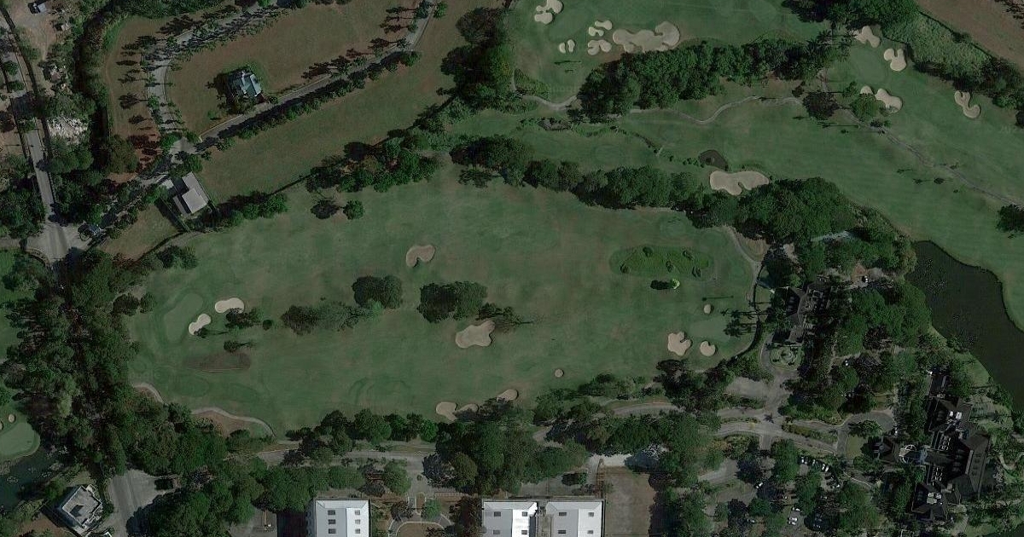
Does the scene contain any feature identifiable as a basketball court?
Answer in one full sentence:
No, no basketball court can be seen from above.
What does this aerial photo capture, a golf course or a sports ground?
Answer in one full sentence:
It's a golf course.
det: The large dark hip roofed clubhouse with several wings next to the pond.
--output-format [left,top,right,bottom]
[912,375,990,523]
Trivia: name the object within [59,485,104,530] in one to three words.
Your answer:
house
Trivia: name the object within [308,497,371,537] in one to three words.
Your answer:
building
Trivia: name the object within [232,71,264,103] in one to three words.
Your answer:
house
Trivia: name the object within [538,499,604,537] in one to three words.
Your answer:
building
